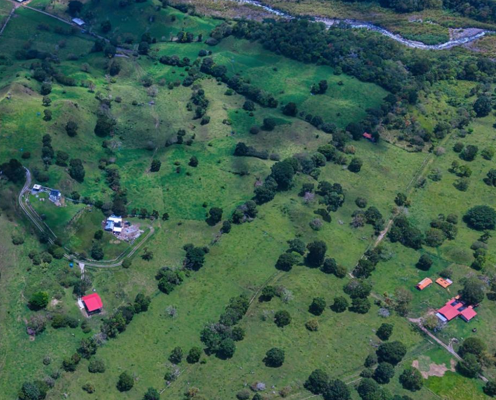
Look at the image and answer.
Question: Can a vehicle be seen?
No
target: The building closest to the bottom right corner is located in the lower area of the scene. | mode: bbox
[435,294,480,327]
